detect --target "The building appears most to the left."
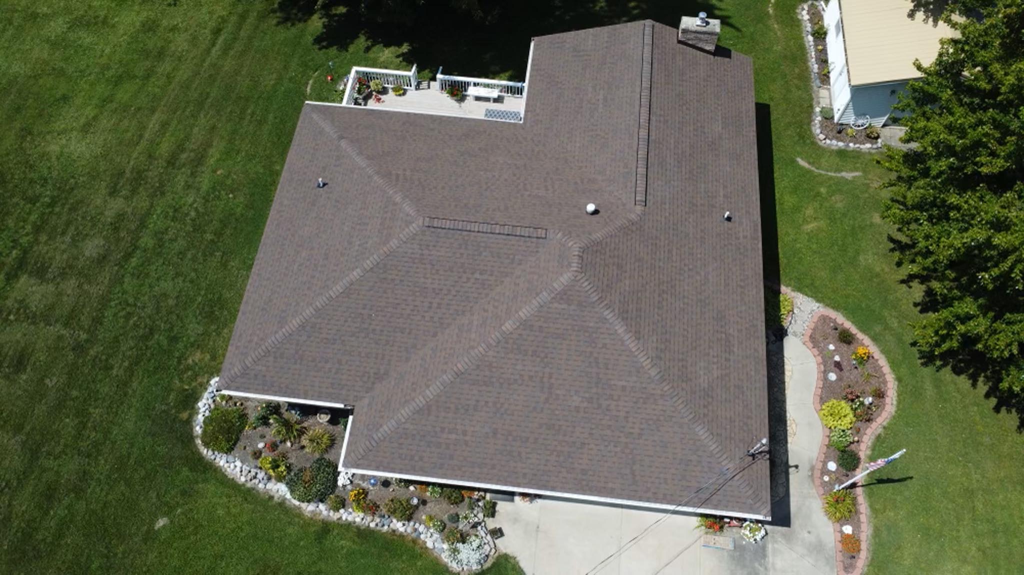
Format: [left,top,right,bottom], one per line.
[218,14,771,525]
